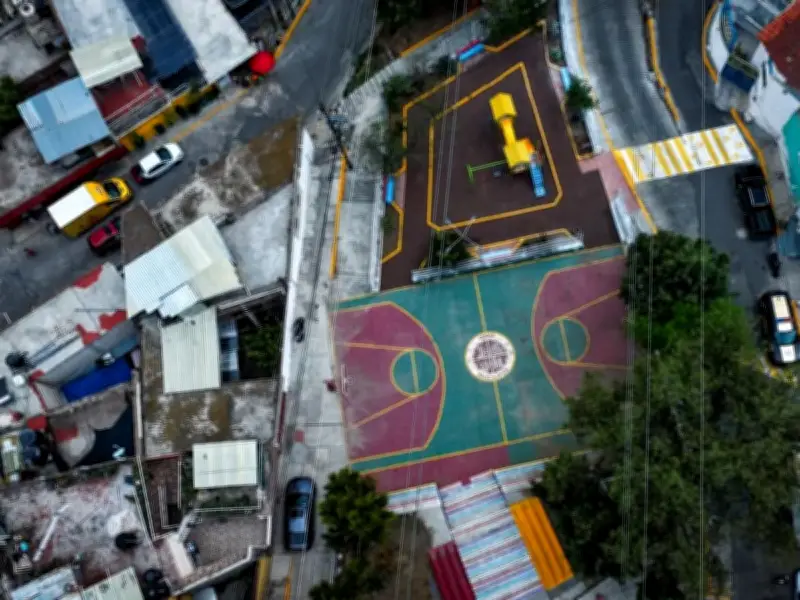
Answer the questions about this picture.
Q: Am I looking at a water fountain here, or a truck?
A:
truck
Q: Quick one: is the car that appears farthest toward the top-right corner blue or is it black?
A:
black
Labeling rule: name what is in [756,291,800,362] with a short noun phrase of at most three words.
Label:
car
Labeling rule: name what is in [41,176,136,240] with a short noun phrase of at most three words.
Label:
truck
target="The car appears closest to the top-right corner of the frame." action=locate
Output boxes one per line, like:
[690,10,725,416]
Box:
[734,166,777,238]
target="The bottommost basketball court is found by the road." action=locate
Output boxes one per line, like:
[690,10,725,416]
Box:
[328,243,658,492]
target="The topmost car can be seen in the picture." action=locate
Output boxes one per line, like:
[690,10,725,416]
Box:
[128,138,189,184]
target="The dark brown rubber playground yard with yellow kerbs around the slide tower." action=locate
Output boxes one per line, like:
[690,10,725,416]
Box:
[377,19,625,291]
